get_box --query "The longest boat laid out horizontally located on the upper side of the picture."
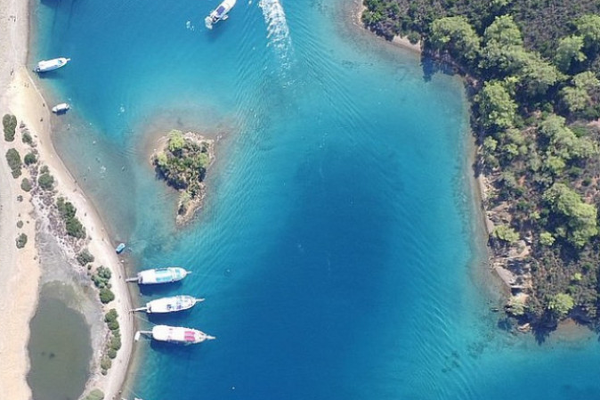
[30,57,70,72]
